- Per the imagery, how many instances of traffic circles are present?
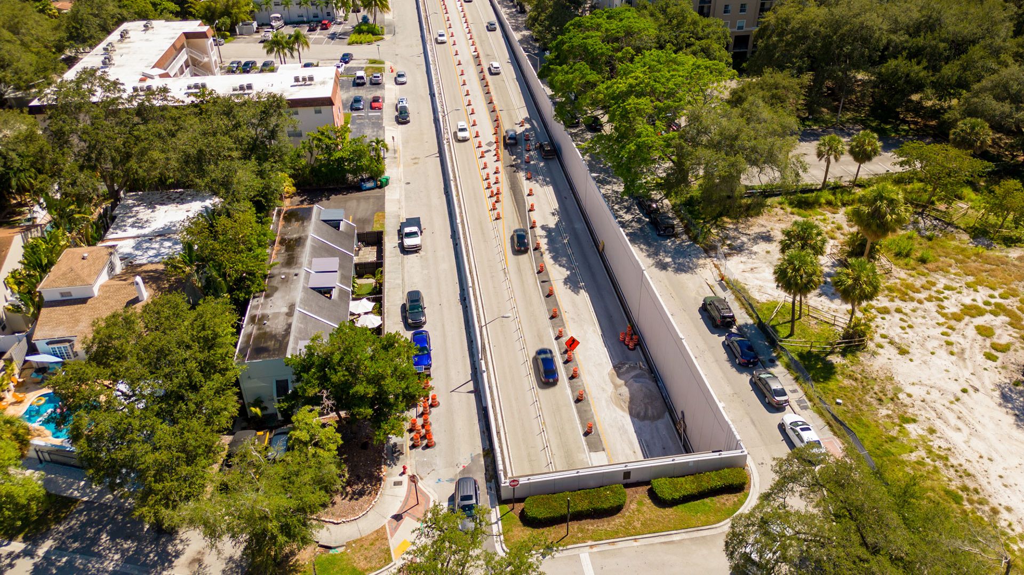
0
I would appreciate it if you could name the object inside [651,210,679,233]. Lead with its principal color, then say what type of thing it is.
black car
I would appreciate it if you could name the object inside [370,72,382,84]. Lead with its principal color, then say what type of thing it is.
gray vehicle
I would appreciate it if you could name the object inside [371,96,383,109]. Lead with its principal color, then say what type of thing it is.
red vehicle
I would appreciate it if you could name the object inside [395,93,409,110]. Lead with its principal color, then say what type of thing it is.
white vehicle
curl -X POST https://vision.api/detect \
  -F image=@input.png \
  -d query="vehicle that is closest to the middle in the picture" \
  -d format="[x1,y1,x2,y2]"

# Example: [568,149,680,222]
[511,229,531,254]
